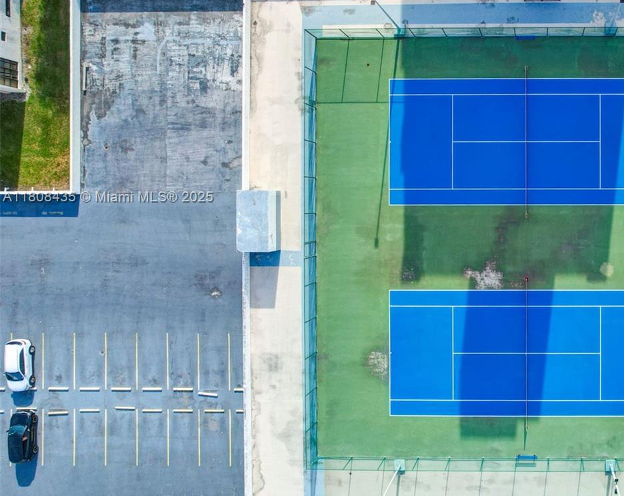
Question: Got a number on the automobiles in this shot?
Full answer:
The number of automobiles here is 2.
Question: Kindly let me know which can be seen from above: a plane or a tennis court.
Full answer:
I can see a tennis court in this picture.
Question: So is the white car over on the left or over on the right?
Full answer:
The white car is on the left side of the image.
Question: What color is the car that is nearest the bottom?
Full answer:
The car that is nearest the bottom is black.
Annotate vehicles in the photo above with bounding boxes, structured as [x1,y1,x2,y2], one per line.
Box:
[6,411,38,463]
[3,340,34,391]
